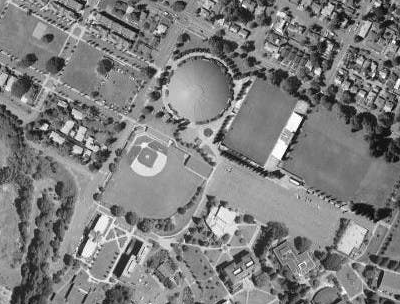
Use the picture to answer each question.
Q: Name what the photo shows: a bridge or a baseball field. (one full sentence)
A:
Of the two, only a baseball field appears.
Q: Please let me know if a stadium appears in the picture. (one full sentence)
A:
Yes, a stadium is visible in the scene.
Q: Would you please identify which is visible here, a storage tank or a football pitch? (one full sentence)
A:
Of the two, only a football pitch appears.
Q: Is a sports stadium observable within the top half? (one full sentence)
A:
Yes, a sports stadium appears within the top half.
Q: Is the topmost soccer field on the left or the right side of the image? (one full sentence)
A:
It is on the right.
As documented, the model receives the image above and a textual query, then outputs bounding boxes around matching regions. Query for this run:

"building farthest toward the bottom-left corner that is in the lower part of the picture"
[77,213,109,257]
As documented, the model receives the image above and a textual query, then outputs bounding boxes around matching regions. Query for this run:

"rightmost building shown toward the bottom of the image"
[337,220,368,259]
